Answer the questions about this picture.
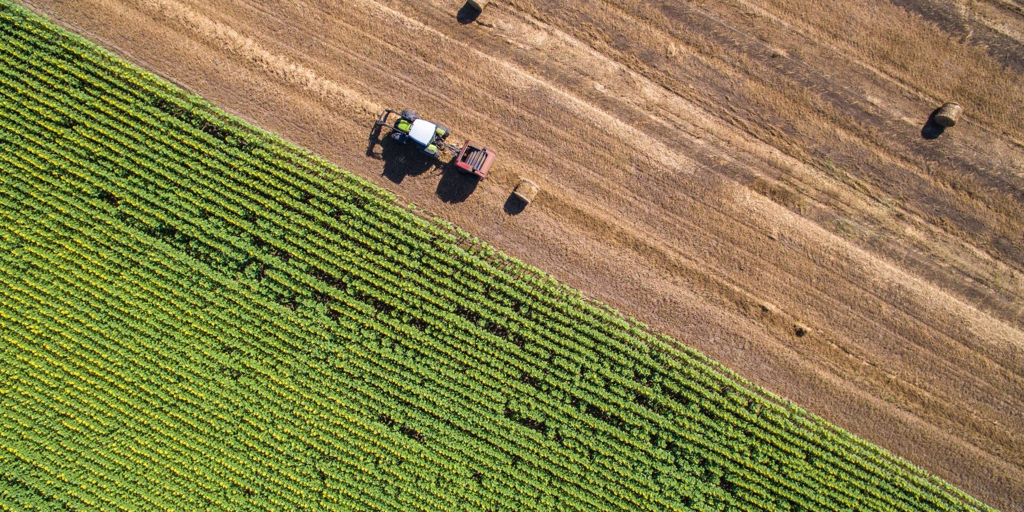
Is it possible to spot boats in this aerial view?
No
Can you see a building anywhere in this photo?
No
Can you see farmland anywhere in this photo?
Yes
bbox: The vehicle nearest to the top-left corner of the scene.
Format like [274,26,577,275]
[378,107,457,161]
